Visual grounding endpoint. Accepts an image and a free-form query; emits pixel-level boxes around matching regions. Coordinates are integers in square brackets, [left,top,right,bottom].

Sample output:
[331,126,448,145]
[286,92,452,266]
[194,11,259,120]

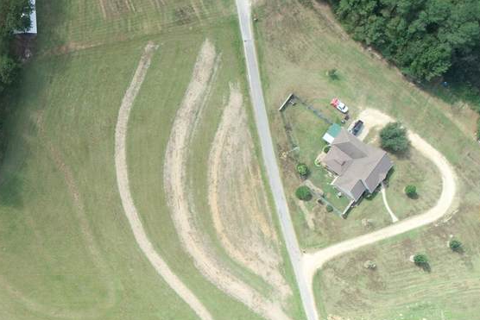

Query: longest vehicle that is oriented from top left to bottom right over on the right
[330,97,349,113]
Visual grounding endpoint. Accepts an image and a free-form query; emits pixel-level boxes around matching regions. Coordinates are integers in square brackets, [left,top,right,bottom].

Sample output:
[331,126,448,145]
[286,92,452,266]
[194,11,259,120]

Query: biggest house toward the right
[316,126,394,203]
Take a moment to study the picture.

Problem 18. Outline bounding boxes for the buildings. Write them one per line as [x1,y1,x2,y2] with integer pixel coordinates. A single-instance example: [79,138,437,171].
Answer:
[17,0,36,33]
[316,126,394,203]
